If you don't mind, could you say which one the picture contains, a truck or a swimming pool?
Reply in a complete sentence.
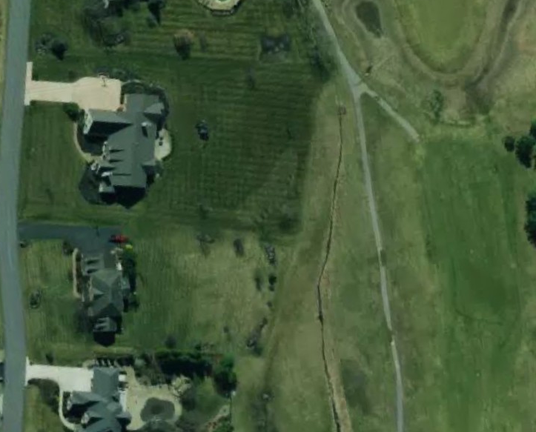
Visible in the photo is a swimming pool.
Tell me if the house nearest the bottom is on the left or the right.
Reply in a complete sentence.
You can find the house nearest the bottom on the left side of the picture.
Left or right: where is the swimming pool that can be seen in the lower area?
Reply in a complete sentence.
The swimming pool that can be seen in the lower area appears in the left half of the scene.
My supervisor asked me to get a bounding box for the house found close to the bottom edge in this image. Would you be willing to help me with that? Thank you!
[69,366,134,432]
